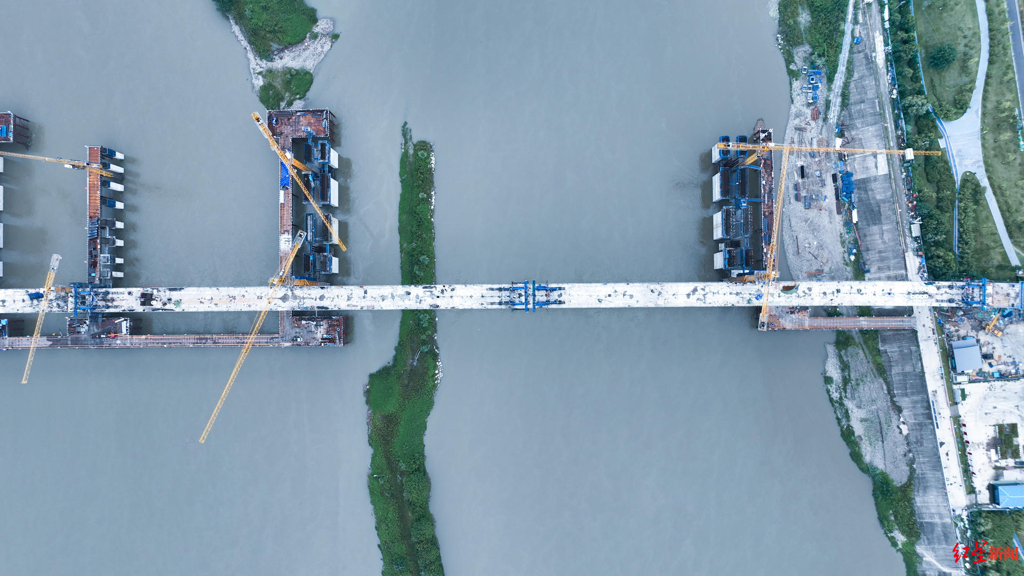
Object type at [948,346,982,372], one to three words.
building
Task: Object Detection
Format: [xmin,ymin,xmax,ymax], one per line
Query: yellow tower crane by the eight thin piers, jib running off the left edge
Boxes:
[0,152,128,179]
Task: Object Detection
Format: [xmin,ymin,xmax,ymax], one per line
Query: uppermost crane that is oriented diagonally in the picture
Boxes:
[248,111,347,251]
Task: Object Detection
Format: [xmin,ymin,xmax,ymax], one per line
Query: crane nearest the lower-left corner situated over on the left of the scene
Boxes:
[21,254,134,384]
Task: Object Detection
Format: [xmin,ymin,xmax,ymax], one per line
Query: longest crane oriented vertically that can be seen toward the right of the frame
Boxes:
[723,152,788,330]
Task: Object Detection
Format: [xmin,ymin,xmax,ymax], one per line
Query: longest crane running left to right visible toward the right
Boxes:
[718,139,943,171]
